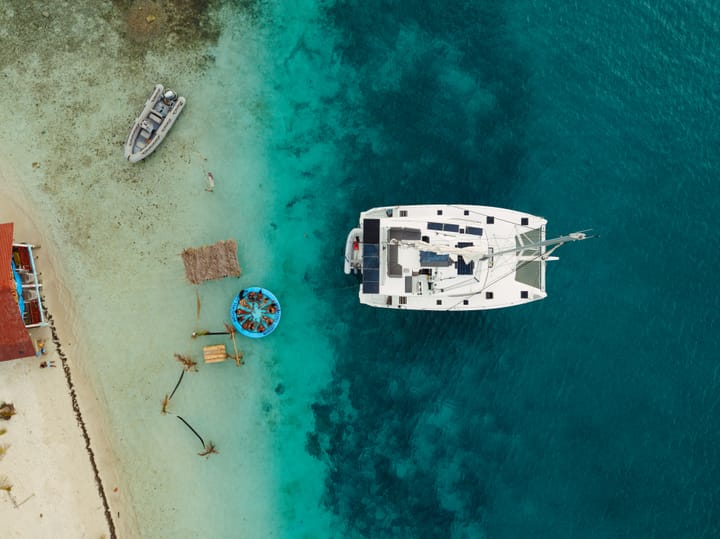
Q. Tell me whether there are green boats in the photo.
No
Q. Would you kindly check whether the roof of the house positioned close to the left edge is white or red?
red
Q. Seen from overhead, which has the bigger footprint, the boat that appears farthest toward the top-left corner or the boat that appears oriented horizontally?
the boat that appears oriented horizontally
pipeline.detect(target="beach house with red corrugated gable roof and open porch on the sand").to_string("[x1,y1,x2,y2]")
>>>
[0,222,56,360]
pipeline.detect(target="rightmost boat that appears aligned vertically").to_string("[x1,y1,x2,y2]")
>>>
[345,226,366,276]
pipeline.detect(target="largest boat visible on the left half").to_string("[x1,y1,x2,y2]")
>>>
[125,82,186,169]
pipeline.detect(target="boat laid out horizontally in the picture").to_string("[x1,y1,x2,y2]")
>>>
[361,205,602,311]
